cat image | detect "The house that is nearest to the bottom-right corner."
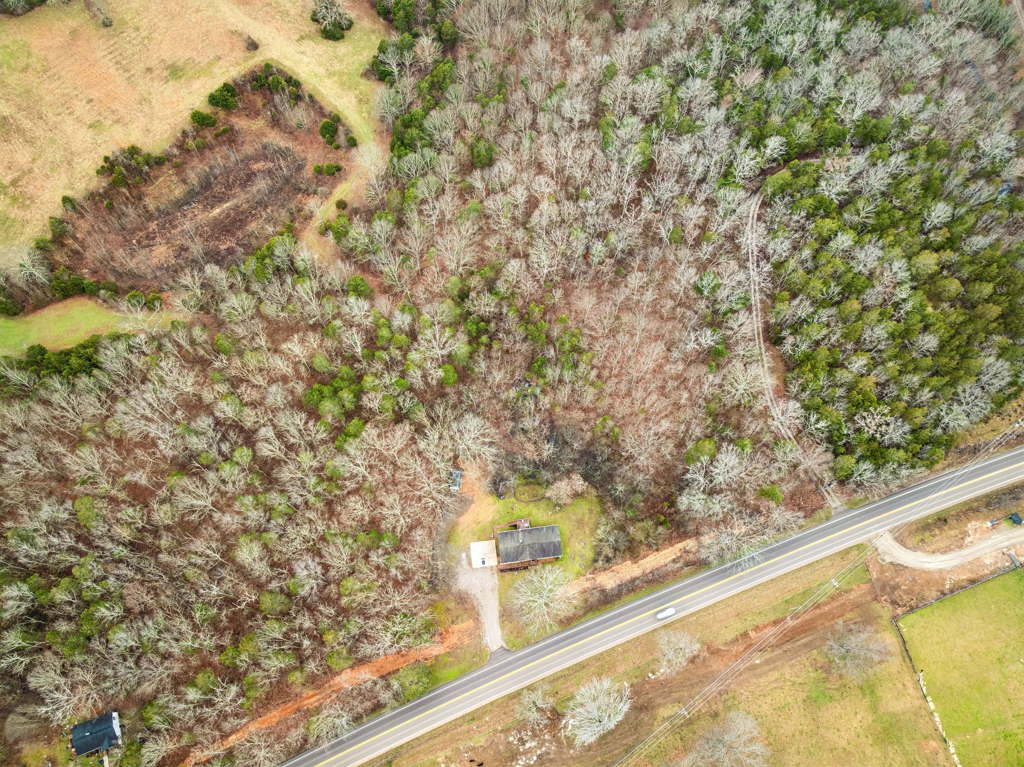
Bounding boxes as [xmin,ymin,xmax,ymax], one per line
[497,518,563,566]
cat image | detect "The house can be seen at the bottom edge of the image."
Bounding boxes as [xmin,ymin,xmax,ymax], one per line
[70,713,126,760]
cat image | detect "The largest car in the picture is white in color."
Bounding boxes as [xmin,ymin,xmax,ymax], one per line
[655,606,676,620]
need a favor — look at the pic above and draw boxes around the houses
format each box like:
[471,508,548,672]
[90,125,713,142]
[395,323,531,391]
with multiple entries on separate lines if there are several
[70,713,126,760]
[497,518,563,566]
